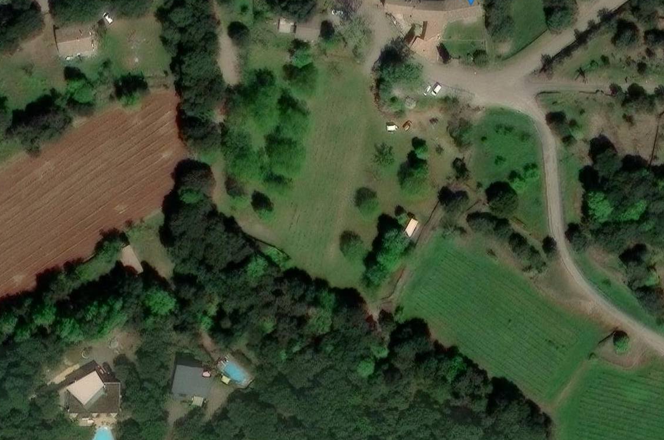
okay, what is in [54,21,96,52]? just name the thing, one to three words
house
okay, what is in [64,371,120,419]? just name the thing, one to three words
house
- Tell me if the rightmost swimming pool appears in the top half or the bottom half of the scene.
bottom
